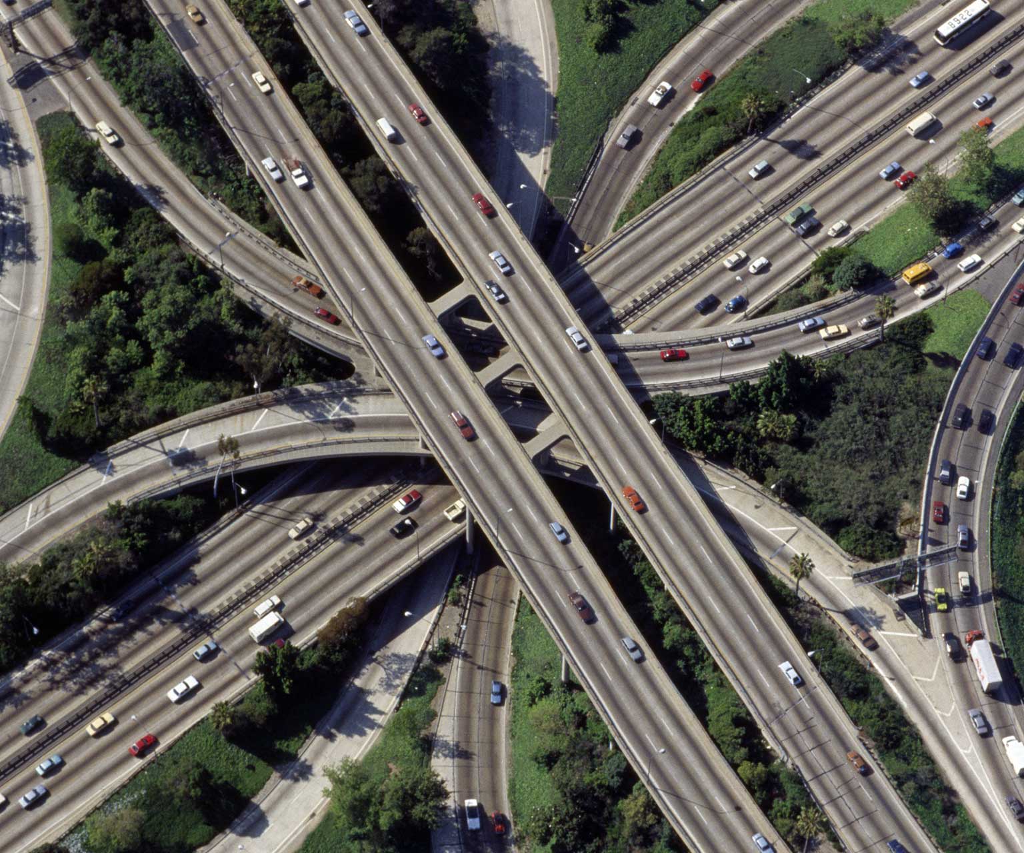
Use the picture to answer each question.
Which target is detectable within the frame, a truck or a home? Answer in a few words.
truck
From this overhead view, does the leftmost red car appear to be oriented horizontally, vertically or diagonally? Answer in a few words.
diagonally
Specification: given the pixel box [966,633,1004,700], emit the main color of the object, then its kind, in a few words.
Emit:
white truck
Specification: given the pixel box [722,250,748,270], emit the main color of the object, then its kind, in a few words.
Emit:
white car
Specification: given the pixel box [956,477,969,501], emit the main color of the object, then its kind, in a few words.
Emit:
white vehicle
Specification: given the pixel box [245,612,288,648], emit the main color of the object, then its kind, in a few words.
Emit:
white truck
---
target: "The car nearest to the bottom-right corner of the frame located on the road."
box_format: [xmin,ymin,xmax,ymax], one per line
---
[1003,795,1023,821]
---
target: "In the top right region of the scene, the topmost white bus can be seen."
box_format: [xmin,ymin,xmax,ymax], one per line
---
[934,0,990,47]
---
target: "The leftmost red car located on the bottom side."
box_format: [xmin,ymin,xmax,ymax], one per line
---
[127,734,157,757]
